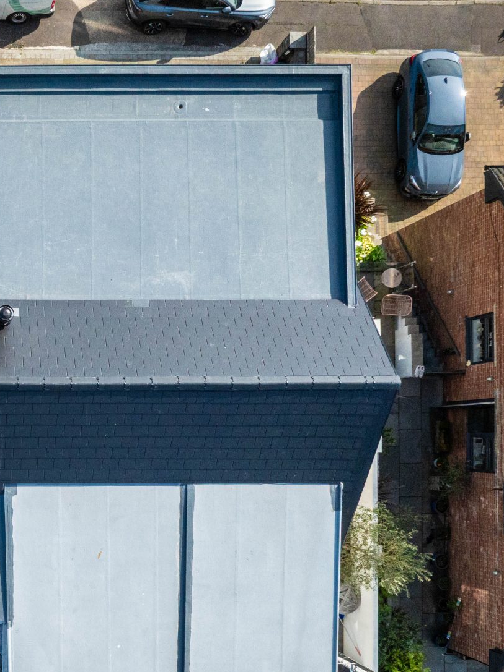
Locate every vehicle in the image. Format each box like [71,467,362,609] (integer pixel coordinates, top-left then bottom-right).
[123,0,278,34]
[389,43,478,207]
[0,0,55,21]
